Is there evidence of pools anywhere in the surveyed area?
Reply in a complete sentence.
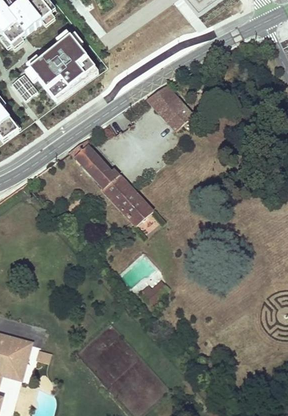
Yes, you can see a pool in this photo.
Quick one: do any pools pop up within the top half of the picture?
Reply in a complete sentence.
No, no pool is visible within the top half of the picture.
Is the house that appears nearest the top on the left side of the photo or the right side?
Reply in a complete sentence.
The house that appears nearest the top is on the left side of the image.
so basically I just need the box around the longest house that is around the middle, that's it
[70,142,160,235]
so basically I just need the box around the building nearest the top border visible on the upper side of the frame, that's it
[0,0,57,52]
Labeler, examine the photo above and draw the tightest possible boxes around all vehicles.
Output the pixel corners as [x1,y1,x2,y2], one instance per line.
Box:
[160,128,170,136]
[113,122,120,132]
